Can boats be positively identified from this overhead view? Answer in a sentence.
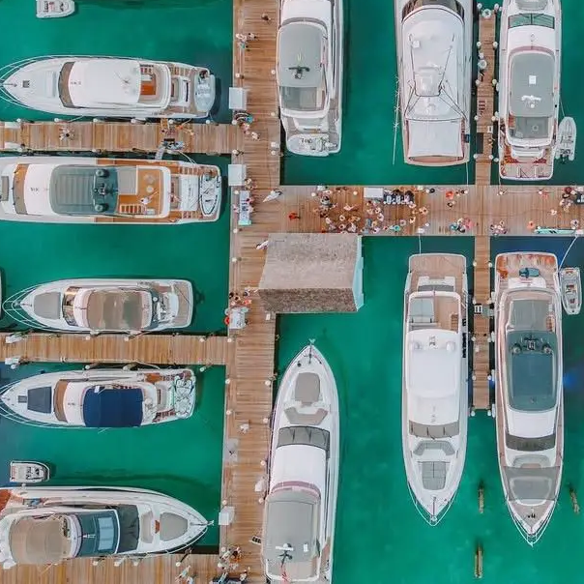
Yes, this view includes a boat.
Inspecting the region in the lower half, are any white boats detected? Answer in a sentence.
Yes, a white boat shows up in the lower half.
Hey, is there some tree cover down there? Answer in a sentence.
No, there is no tree cover in the image.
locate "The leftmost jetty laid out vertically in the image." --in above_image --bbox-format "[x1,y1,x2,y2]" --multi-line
[222,0,282,584]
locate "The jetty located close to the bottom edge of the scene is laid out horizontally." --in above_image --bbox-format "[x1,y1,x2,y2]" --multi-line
[0,551,223,584]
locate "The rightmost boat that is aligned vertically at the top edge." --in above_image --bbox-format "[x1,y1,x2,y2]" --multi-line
[497,0,562,179]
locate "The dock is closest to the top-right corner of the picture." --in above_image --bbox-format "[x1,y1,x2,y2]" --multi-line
[476,8,497,187]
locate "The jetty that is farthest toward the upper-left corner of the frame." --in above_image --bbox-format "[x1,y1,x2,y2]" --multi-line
[0,121,232,154]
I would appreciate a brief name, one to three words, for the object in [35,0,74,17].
boat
